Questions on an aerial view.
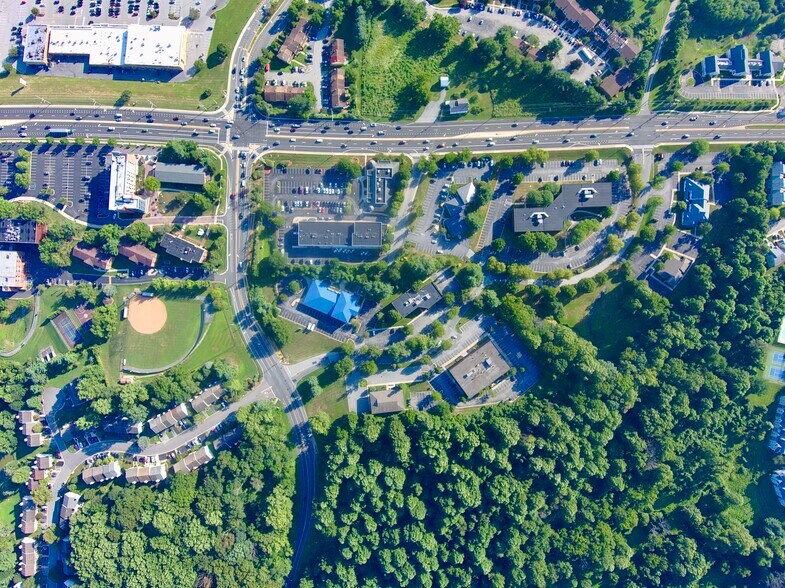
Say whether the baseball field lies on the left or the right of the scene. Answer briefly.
left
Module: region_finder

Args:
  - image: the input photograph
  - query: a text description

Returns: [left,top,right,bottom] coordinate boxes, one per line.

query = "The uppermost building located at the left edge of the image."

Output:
[24,23,190,71]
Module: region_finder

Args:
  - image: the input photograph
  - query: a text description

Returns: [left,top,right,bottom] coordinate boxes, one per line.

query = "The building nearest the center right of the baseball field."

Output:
[392,282,442,318]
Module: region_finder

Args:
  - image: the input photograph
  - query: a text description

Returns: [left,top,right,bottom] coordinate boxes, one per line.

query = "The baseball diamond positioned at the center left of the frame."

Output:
[123,297,202,373]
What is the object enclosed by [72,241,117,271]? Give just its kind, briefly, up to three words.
house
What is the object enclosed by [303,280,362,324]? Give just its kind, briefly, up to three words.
building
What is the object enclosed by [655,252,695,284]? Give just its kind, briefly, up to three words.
building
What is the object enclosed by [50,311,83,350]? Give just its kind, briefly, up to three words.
tennis court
